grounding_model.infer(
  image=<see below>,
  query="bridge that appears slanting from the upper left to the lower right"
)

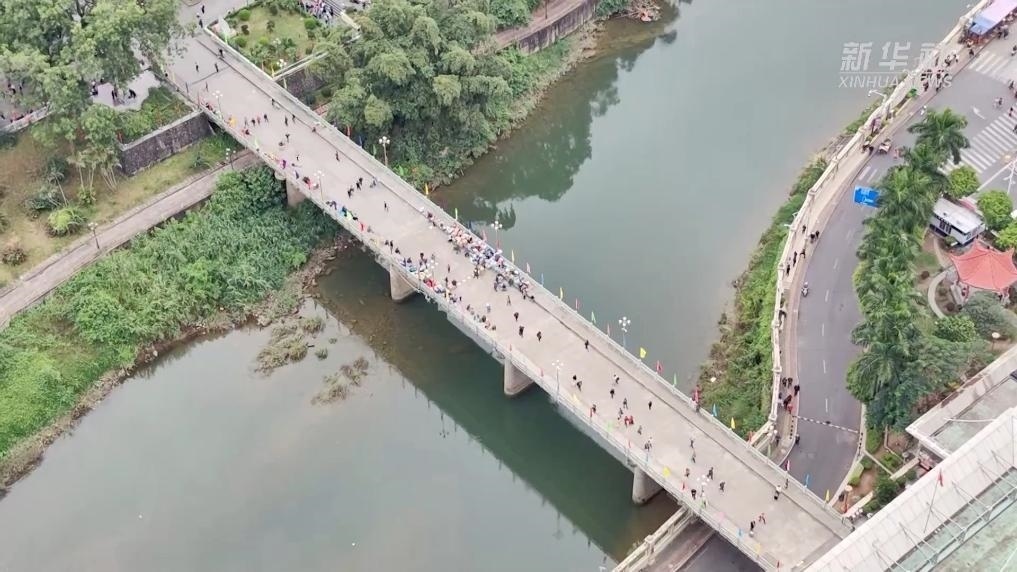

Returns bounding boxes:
[170,44,852,572]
